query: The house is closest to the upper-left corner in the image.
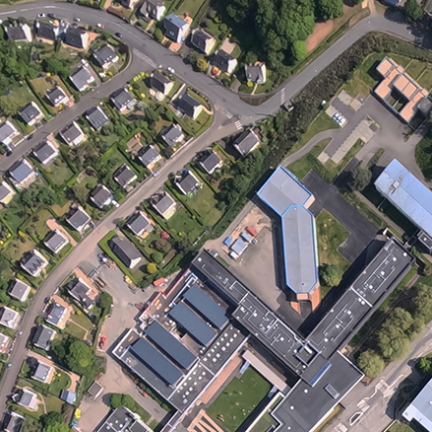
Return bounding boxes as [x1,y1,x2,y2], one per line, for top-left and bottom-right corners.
[2,25,33,47]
